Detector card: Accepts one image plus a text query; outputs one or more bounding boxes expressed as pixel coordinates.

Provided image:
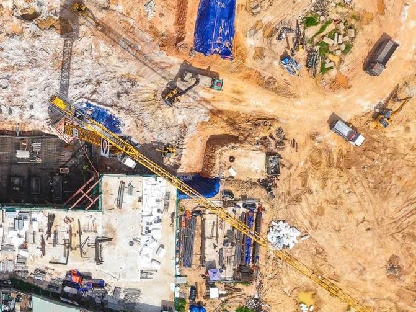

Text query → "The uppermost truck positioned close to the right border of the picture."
[367,33,407,77]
